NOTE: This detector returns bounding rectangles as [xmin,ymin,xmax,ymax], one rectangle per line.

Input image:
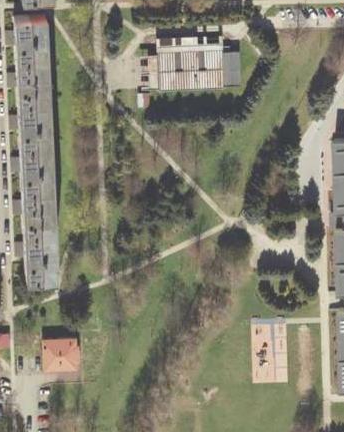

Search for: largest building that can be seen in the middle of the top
[139,36,240,90]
